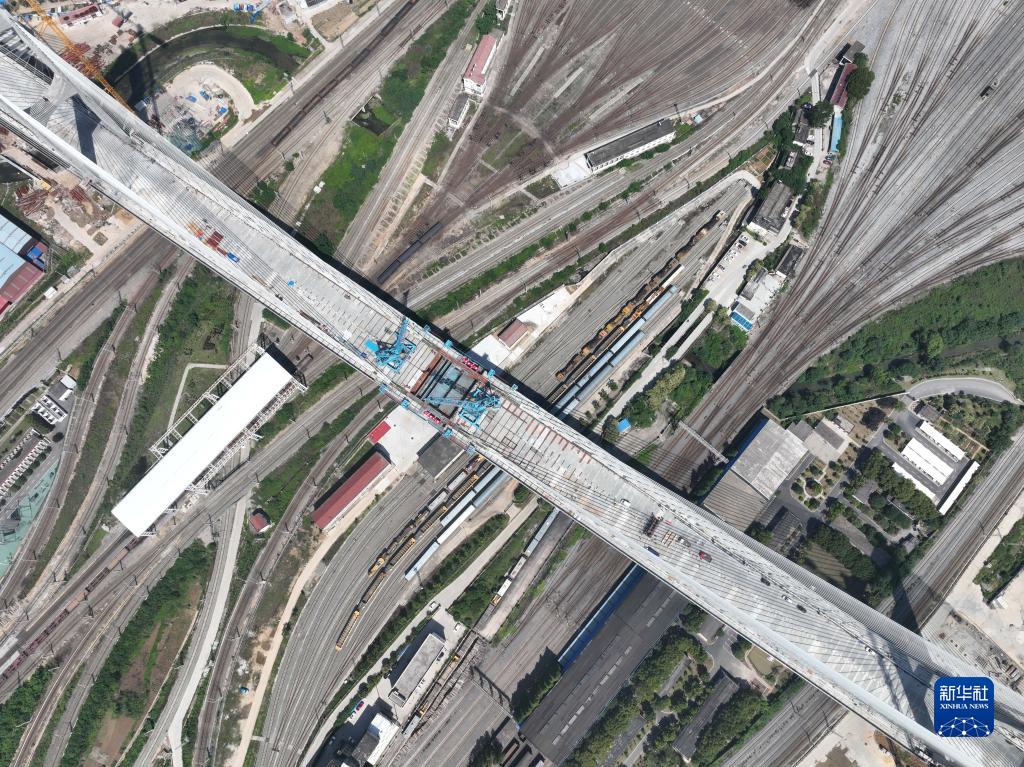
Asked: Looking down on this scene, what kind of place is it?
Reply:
rail yard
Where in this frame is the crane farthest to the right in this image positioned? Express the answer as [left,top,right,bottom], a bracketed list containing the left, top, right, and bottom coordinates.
[427,391,501,429]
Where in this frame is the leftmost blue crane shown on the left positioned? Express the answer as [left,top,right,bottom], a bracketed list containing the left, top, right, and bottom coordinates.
[374,317,415,371]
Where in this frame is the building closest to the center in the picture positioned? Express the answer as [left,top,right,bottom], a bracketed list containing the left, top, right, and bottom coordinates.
[498,318,530,348]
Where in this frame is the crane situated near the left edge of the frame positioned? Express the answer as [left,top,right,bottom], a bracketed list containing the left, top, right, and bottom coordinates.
[14,0,163,136]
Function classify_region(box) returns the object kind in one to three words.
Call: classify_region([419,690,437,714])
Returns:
rail car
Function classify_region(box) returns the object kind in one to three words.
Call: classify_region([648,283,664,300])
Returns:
rail car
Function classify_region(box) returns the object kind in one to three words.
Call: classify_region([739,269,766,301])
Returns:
building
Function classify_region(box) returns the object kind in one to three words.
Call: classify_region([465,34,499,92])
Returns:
building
